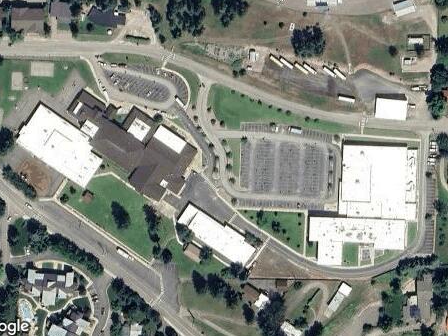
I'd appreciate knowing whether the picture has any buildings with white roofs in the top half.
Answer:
Yes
